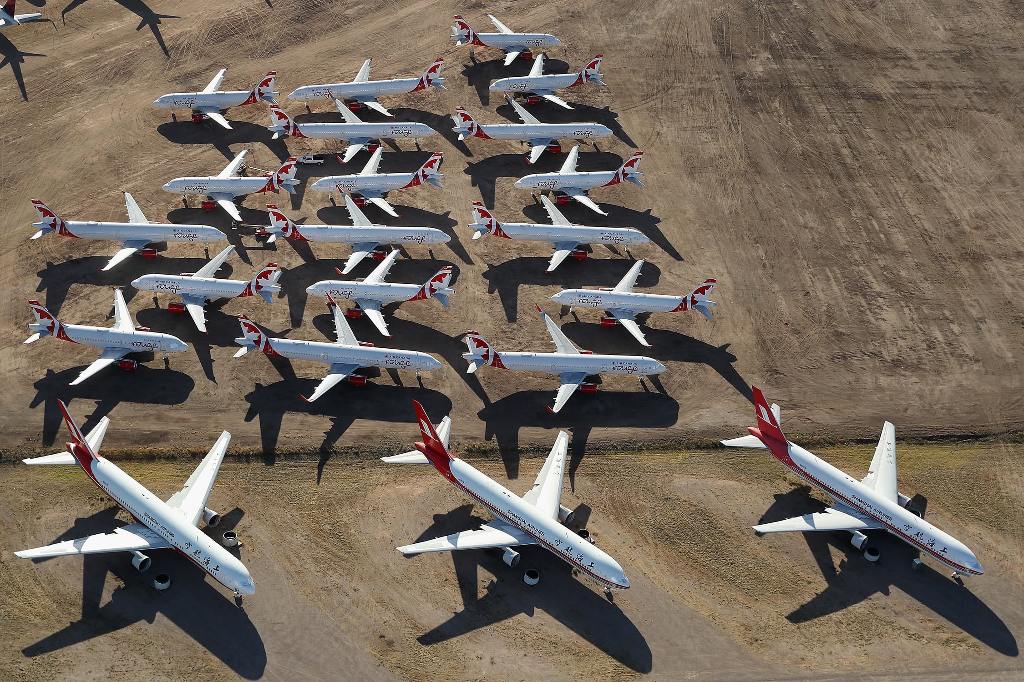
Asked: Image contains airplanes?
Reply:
Yes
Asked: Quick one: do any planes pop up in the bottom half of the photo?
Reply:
Yes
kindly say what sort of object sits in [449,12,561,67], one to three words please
airplane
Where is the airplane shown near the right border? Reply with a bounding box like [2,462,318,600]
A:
[722,386,981,579]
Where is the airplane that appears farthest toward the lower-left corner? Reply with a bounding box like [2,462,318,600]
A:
[15,399,257,599]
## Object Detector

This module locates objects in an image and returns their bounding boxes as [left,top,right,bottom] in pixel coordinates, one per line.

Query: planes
[722,386,981,579]
[449,12,561,67]
[311,144,445,218]
[233,293,442,402]
[461,303,666,412]
[552,258,716,348]
[305,247,456,338]
[162,147,301,223]
[31,189,226,273]
[515,143,644,216]
[131,243,283,334]
[263,185,451,274]
[0,0,45,26]
[15,399,257,599]
[451,91,613,163]
[467,192,649,273]
[153,66,281,130]
[267,90,435,163]
[383,399,632,595]
[289,57,447,118]
[490,51,605,110]
[25,287,188,387]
